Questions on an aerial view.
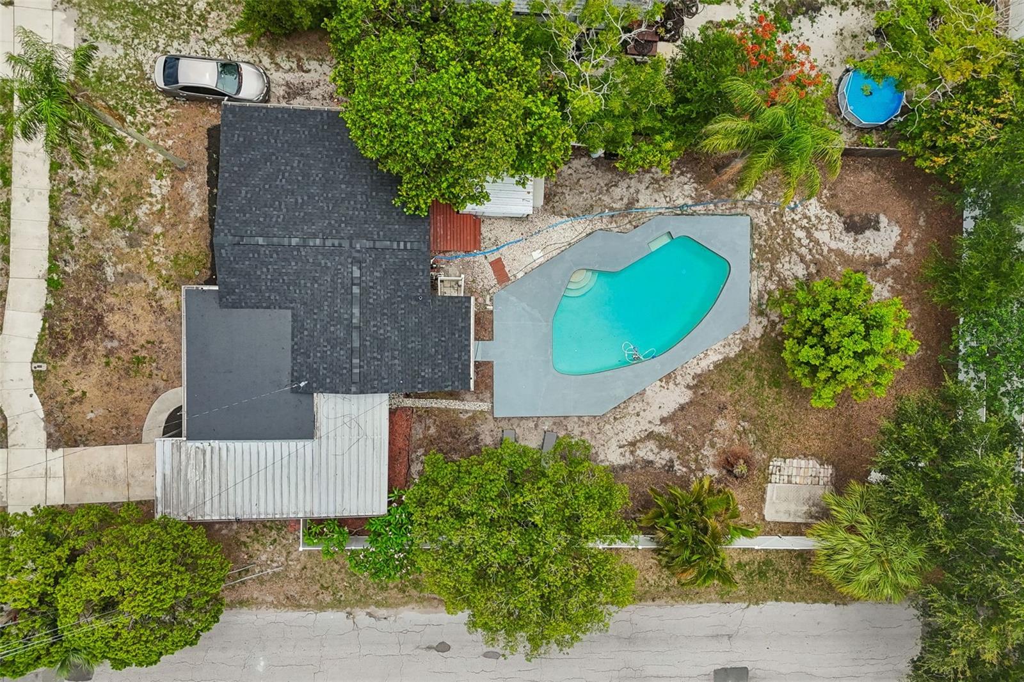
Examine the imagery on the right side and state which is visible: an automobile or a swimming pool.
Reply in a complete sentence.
What appears on the right side is a swimming pool.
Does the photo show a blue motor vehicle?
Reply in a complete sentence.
No, no blue motor vehicle is visible in the scene.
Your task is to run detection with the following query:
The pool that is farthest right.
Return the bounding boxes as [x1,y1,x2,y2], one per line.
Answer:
[825,65,904,138]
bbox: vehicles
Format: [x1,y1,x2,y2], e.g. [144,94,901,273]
[148,48,273,105]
